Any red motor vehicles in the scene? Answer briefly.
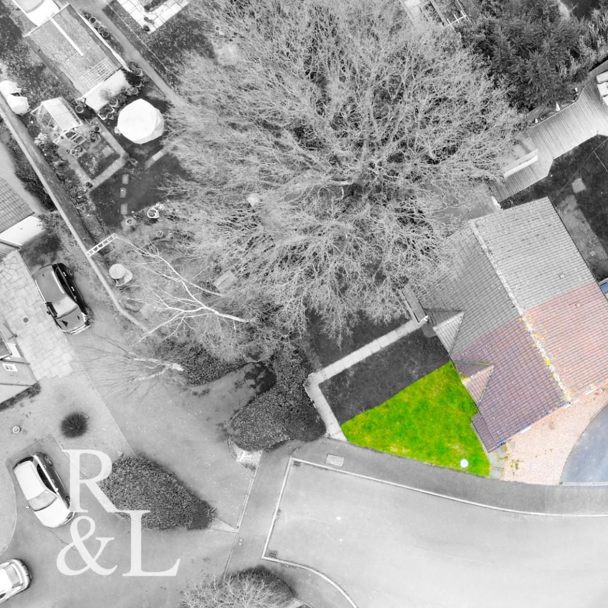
No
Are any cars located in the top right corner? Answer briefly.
No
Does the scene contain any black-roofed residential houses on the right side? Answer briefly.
No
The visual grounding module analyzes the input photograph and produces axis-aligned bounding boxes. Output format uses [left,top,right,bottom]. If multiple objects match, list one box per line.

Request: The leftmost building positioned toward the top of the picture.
[0,176,45,259]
